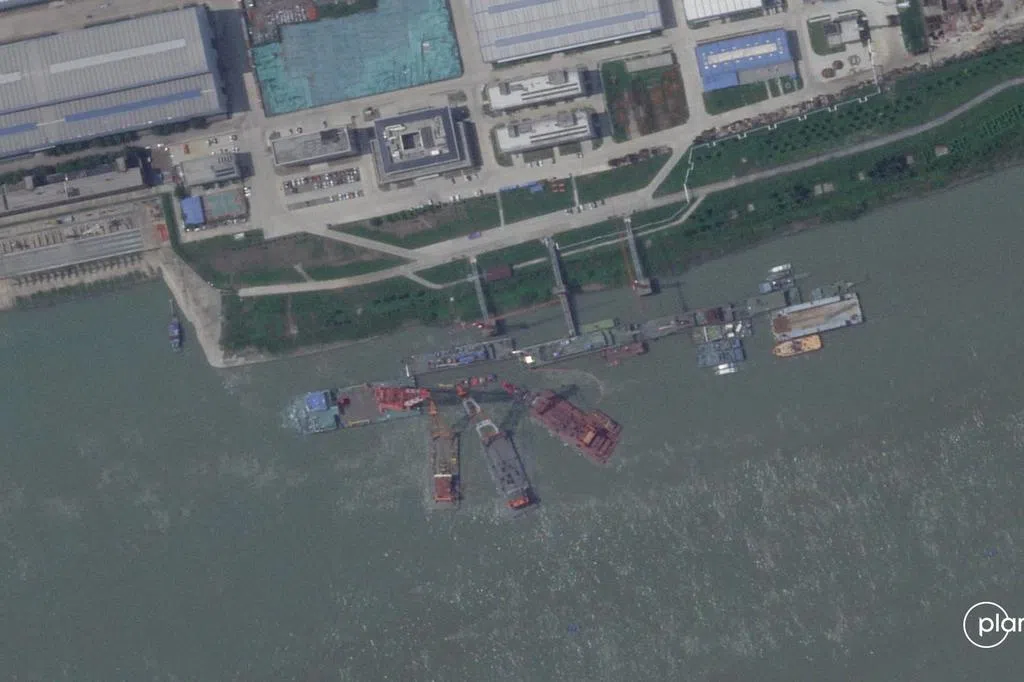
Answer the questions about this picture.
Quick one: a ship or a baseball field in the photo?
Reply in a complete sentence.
The image shows a ship.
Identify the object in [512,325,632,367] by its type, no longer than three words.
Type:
pier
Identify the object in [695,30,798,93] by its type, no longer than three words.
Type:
building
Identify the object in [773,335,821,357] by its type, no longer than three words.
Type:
boat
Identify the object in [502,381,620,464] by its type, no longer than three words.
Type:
ship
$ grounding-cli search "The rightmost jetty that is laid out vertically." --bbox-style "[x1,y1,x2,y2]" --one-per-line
[623,218,654,297]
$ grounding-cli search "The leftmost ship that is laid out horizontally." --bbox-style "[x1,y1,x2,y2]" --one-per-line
[284,361,447,434]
